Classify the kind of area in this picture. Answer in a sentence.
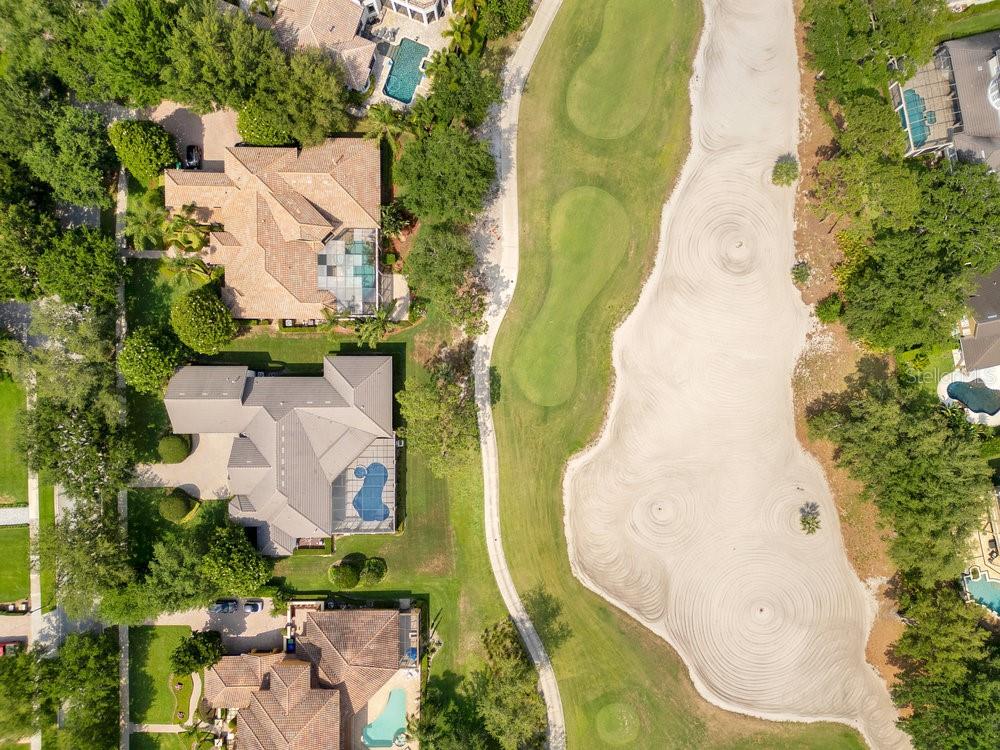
The area seen from above is a golf course.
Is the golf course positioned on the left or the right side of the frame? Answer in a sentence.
The golf course appears in the right half of the scene.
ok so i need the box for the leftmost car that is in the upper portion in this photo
[188,145,202,171]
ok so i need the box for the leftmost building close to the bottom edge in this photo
[204,607,399,750]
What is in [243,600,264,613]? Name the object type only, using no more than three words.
vehicle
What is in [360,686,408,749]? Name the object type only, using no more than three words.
swimming pool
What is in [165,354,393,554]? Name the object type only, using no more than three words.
house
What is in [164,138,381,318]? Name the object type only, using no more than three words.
house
